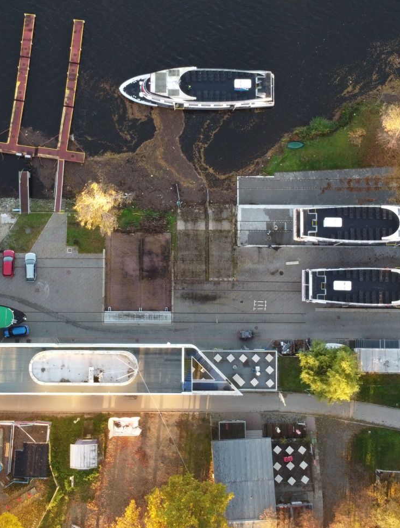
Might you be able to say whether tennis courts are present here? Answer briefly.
No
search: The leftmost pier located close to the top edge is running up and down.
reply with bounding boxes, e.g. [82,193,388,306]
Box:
[0,13,36,161]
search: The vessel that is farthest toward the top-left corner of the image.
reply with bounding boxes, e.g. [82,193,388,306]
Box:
[120,64,273,105]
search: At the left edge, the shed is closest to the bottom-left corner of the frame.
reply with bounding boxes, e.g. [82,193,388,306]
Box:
[6,440,50,487]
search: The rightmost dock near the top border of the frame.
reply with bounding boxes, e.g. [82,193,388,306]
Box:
[36,19,85,167]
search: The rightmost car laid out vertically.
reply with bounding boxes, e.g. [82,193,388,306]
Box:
[22,251,37,283]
